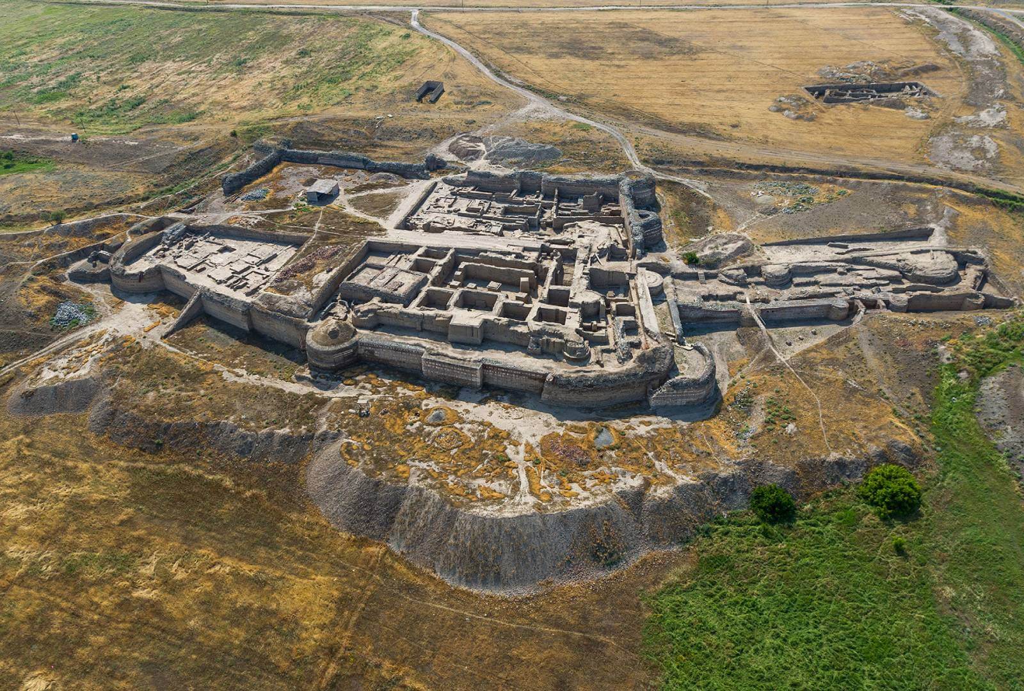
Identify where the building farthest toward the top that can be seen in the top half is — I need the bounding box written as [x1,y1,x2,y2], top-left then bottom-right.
[416,82,444,104]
